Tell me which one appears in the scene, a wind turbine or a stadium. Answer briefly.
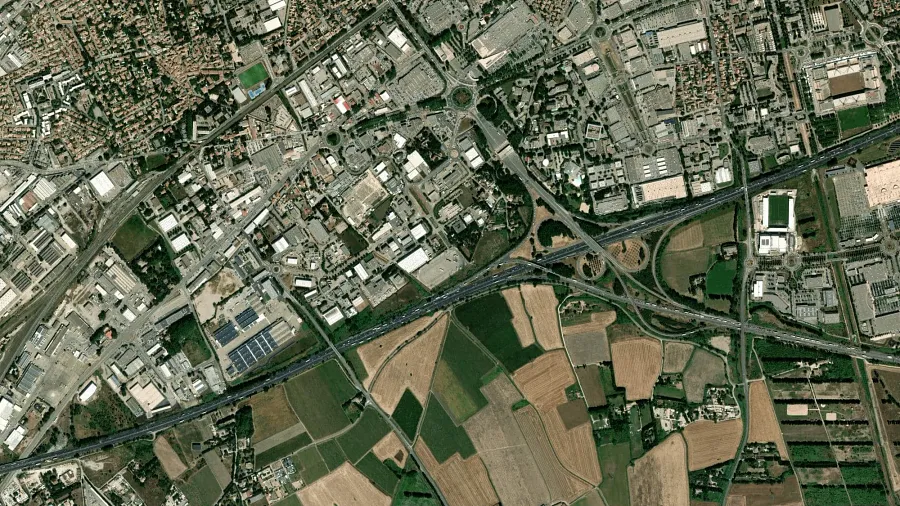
stadium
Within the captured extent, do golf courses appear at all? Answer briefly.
No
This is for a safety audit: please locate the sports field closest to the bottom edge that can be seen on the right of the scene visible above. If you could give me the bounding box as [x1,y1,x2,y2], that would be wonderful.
[769,195,789,228]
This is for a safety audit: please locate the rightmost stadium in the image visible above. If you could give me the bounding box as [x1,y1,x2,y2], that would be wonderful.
[801,48,890,119]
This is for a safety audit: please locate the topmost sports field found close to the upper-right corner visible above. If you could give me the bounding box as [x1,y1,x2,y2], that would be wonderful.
[829,71,866,98]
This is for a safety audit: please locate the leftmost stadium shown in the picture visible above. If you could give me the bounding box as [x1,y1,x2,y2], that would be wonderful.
[759,190,796,253]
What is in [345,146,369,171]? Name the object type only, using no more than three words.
building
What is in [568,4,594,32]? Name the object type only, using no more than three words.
building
